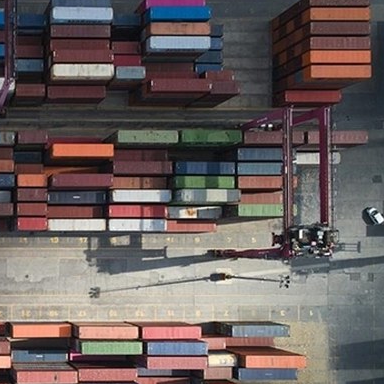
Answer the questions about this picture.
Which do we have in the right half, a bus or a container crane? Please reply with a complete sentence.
The one visible in the right half is a container crane.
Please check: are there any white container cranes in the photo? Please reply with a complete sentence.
No, the frame has no white container crane in it.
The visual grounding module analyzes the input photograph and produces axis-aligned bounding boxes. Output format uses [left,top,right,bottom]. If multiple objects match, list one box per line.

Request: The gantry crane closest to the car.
[205,104,337,259]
